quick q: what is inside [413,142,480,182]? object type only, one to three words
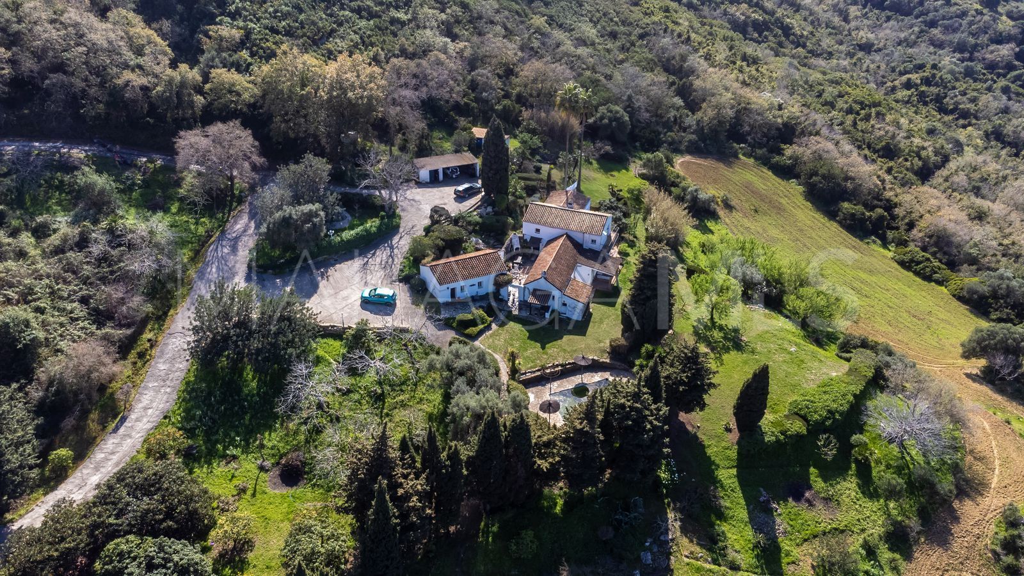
building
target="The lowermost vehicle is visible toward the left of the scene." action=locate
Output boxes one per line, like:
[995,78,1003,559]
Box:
[360,284,397,302]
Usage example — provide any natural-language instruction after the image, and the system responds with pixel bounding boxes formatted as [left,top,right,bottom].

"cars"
[452,180,483,195]
[360,284,397,302]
